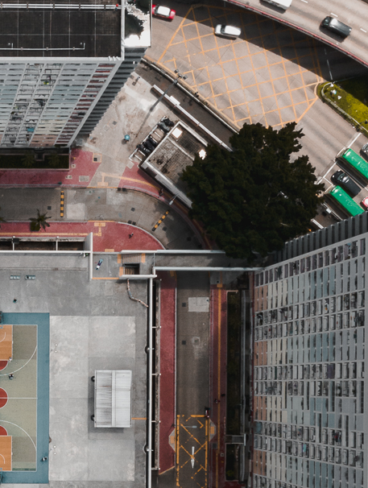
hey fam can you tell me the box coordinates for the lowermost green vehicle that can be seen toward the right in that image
[328,184,368,218]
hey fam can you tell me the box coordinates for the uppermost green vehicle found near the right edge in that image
[337,147,368,185]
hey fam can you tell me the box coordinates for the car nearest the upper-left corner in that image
[150,5,177,21]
